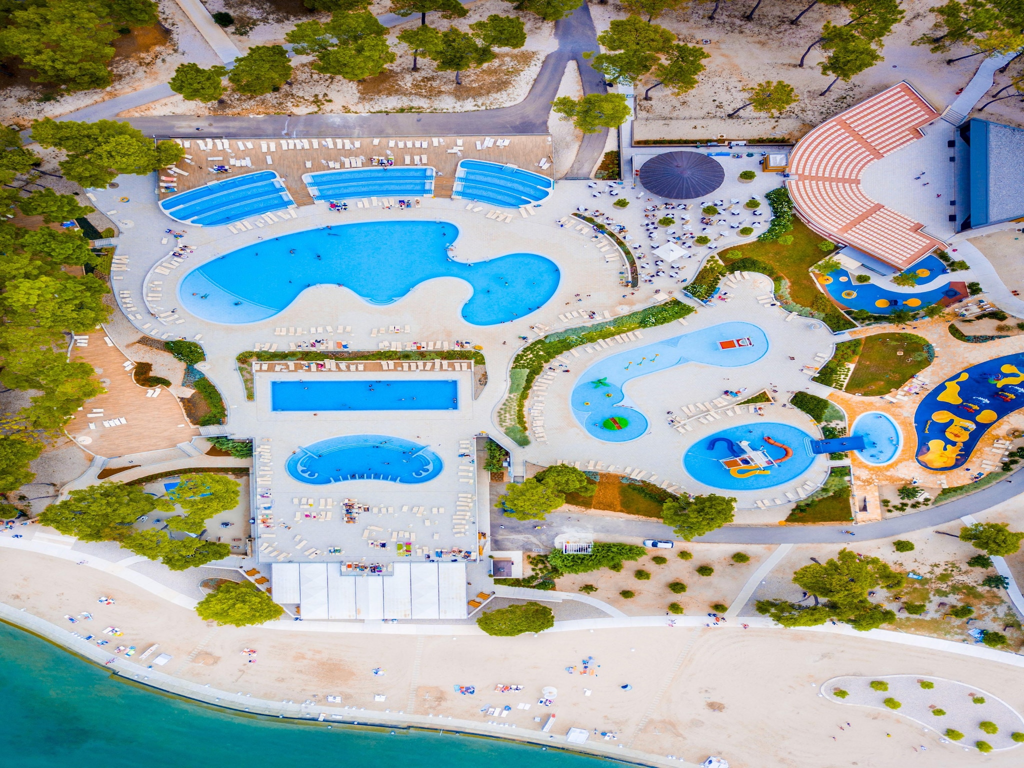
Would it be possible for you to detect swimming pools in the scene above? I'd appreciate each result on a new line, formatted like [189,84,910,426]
[160,170,296,227]
[266,377,462,414]
[303,167,435,203]
[451,160,553,209]
[680,418,823,494]
[851,409,905,469]
[283,431,447,487]
[568,318,772,445]
[176,216,565,330]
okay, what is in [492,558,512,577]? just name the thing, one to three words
shed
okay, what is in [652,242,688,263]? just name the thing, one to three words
umbrella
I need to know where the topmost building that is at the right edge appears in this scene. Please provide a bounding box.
[953,106,1024,235]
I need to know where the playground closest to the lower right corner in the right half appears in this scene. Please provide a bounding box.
[914,352,1024,471]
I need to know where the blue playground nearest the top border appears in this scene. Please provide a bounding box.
[810,255,969,316]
